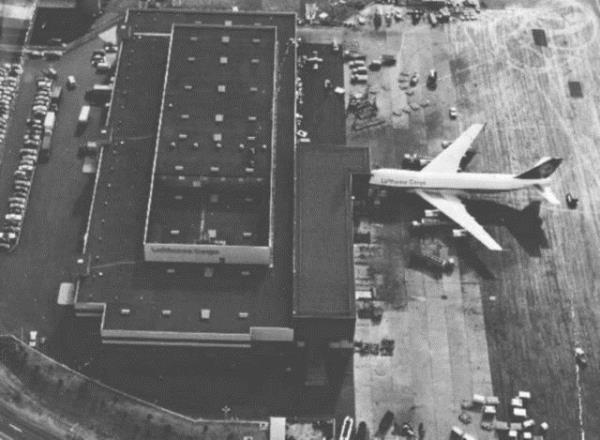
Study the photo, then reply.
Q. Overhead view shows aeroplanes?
Yes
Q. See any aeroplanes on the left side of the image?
No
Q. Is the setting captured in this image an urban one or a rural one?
urban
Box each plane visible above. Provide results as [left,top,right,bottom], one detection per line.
[368,123,566,247]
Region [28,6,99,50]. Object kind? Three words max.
shed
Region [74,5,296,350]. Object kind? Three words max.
building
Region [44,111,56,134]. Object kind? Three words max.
vehicle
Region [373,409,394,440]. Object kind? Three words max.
bus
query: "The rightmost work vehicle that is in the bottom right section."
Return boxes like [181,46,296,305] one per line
[571,348,588,364]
